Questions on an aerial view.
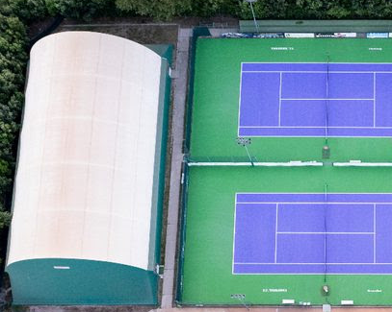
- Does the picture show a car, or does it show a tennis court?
tennis court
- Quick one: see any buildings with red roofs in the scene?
No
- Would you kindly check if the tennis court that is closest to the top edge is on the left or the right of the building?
right of it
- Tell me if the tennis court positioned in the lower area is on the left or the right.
right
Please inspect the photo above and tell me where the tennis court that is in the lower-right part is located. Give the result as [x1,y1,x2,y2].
[179,163,392,305]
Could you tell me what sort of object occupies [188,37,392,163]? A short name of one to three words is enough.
tennis court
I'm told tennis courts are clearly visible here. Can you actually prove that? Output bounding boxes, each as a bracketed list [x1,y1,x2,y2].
[179,163,392,305]
[188,37,392,163]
